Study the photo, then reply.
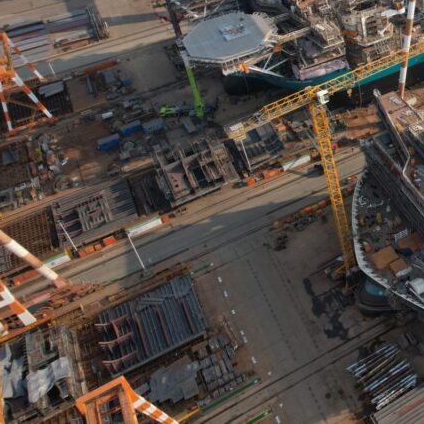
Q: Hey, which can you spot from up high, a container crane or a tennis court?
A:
container crane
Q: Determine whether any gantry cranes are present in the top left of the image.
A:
Yes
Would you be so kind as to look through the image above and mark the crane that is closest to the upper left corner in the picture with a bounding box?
[0,25,61,136]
